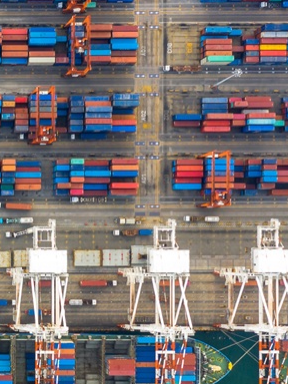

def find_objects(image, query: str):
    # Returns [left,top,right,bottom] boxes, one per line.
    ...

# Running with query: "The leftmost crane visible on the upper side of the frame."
[25,83,56,144]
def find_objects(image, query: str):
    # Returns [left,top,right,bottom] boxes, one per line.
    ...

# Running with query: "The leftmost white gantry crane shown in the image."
[4,216,66,384]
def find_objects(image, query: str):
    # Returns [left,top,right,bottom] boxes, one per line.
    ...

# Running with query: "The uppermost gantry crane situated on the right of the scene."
[194,150,233,208]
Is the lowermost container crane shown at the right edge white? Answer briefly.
Yes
